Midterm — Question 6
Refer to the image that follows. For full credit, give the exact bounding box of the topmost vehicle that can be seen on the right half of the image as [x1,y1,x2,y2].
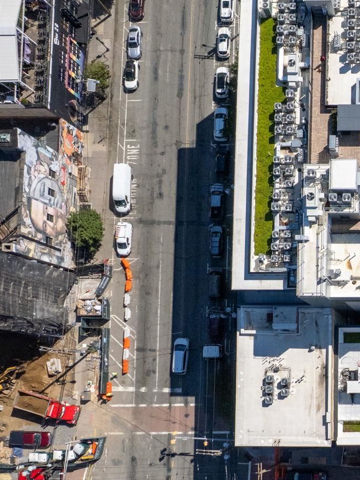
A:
[218,0,234,27]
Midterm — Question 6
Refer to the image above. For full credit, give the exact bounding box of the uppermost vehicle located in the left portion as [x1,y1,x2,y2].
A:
[130,0,147,21]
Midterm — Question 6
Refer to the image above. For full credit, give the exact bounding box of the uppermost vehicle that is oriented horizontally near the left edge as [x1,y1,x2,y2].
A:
[7,392,79,422]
